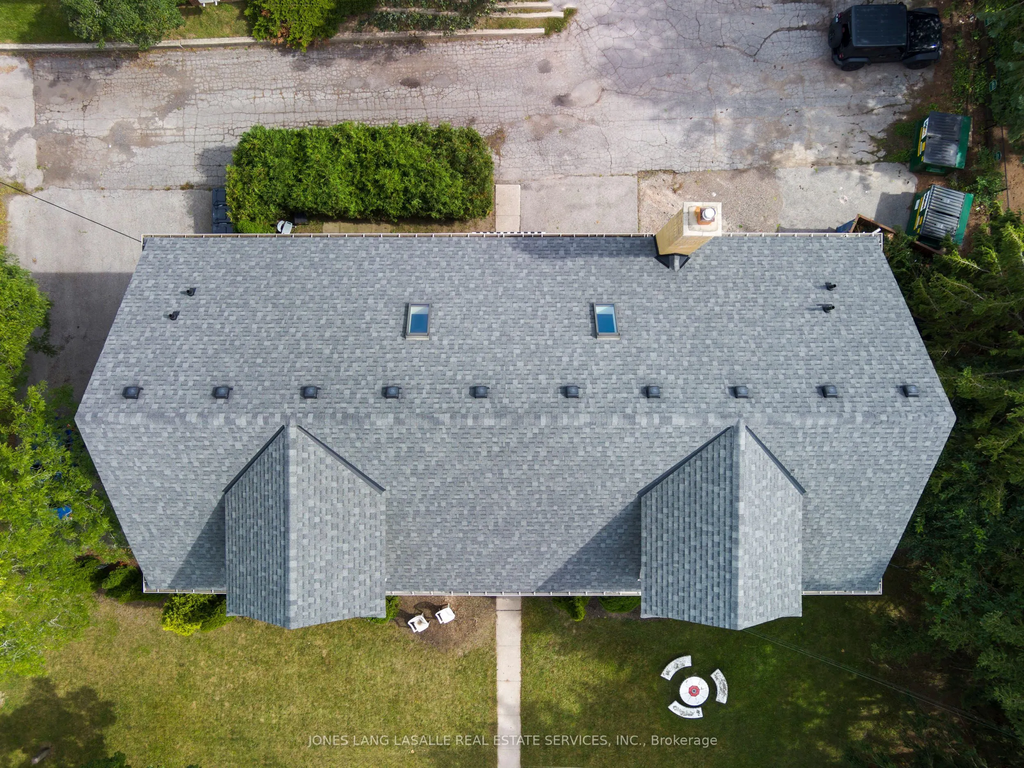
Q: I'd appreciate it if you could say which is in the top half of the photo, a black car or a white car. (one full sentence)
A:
There is a black car in the top half of the photo.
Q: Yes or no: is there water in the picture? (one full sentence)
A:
No, the scene doesn't show any water.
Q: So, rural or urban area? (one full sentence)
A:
The area is urban.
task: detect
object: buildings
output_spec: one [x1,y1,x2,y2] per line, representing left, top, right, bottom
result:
[73,202,955,630]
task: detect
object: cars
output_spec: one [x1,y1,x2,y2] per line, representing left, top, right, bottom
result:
[830,4,941,73]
